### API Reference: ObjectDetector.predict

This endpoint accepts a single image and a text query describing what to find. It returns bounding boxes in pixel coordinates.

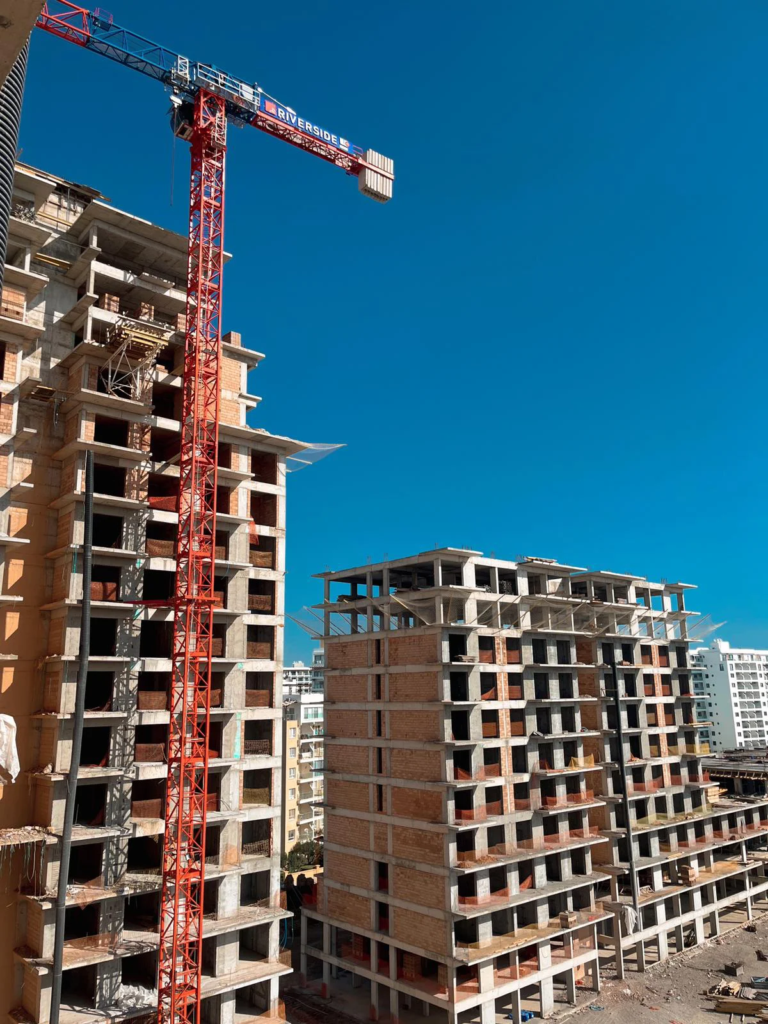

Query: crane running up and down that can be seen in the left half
[31,0,396,1024]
